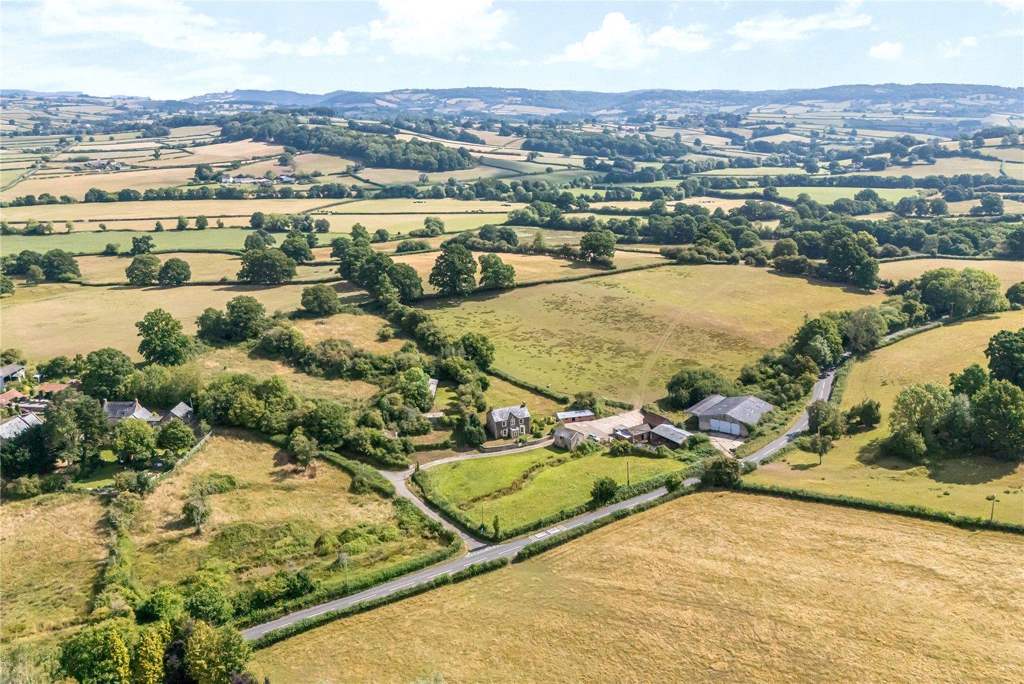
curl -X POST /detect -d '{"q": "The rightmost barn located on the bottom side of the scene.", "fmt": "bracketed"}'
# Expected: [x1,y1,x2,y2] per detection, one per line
[681,393,765,439]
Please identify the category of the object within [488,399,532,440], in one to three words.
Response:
house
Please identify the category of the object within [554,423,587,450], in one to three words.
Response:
barn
